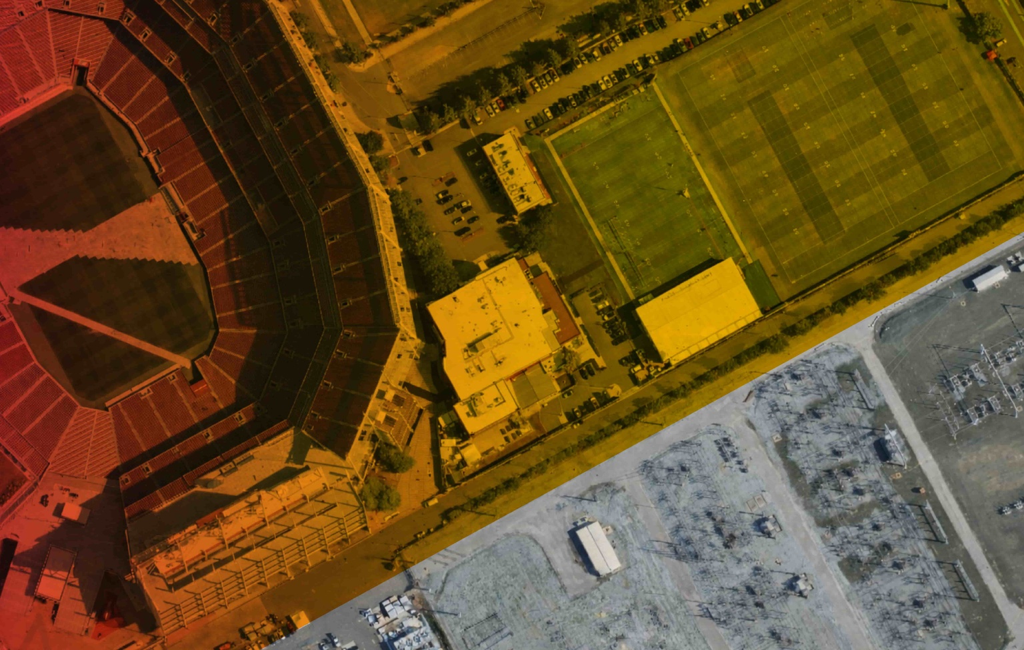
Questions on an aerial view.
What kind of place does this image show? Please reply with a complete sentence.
This image shows a sports ground.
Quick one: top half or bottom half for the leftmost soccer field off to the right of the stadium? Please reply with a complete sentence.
It is in the top half that the leftmost soccer field off to the right of the stadium appears.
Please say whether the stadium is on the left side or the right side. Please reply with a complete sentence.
It is on the left.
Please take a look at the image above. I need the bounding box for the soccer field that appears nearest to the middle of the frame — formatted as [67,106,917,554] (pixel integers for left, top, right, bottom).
[528,75,781,311]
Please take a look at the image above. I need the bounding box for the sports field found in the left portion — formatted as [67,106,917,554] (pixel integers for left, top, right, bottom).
[0,85,217,408]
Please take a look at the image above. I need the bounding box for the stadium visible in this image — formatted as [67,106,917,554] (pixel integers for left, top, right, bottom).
[0,0,424,523]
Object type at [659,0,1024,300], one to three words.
soccer field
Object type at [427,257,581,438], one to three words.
building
